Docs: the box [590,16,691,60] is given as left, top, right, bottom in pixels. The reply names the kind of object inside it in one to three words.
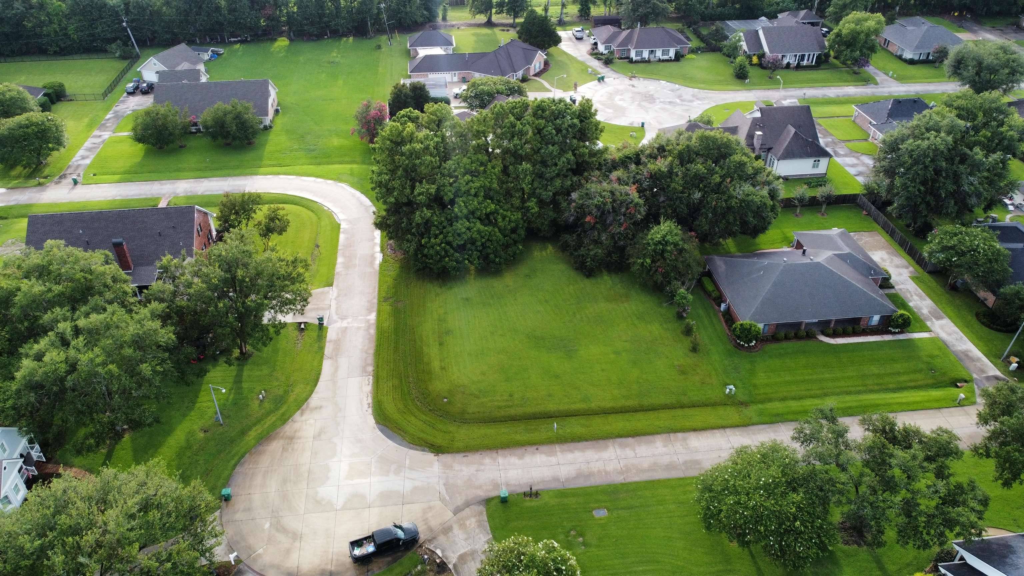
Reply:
house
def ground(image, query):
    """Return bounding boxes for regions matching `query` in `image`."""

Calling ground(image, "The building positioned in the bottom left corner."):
[0,434,68,524]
